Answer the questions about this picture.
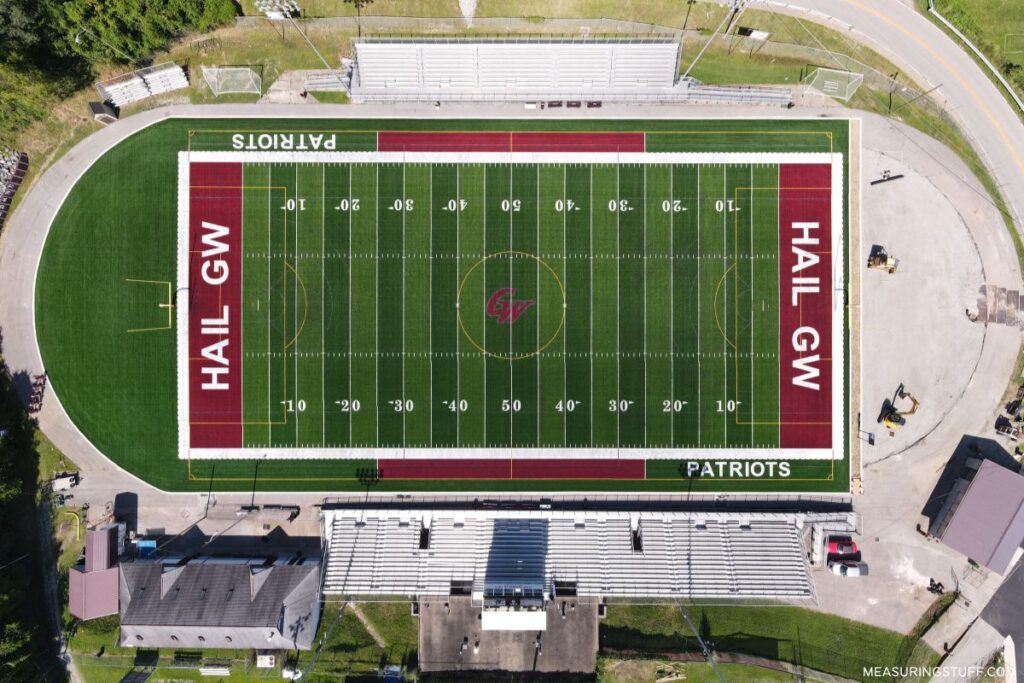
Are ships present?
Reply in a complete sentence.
No, there is no ship in the image.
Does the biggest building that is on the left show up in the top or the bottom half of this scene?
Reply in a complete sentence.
It is in the bottom half that the biggest building that is on the left appears.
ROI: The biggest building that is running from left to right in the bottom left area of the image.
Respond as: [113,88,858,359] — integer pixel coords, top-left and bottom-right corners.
[118,553,322,649]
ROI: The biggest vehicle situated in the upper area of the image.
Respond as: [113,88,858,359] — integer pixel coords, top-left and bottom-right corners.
[865,255,909,272]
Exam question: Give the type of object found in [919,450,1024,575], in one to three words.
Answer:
building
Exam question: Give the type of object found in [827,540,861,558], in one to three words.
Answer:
car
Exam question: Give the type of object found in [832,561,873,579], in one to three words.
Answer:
vehicle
